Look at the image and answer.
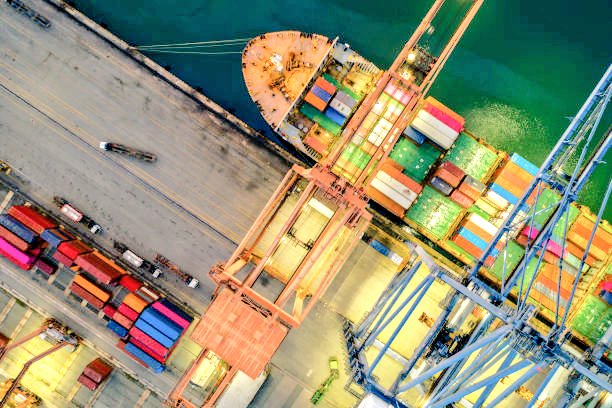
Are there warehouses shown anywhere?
No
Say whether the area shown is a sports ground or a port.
port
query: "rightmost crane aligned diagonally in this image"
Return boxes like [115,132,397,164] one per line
[336,66,612,408]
